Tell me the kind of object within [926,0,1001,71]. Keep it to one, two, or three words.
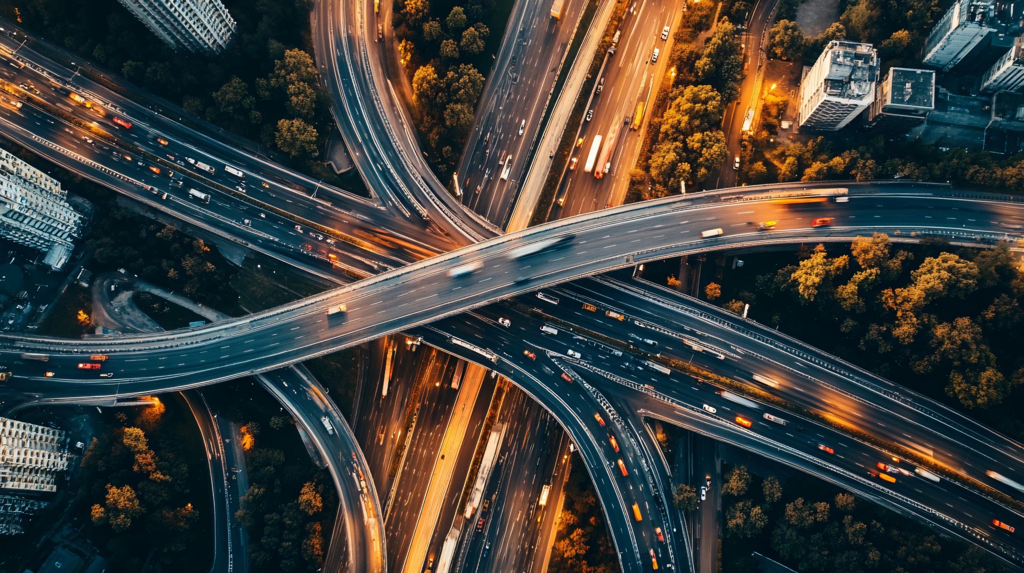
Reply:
building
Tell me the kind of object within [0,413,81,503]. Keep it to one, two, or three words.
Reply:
building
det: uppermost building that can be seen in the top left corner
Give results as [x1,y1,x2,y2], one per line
[113,0,237,53]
